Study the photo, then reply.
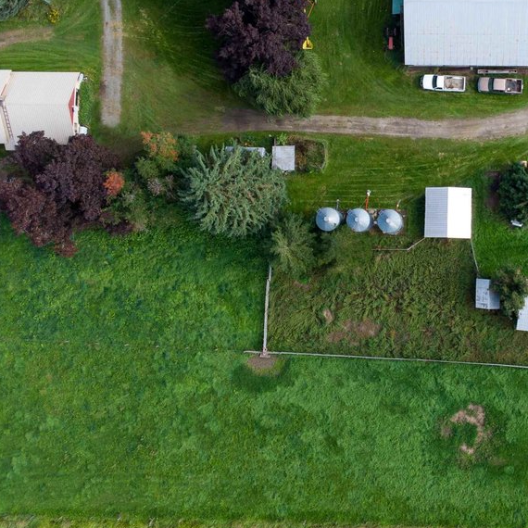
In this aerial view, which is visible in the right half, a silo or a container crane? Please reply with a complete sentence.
The one visible in the right half is a silo.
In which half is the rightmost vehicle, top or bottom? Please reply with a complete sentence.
It is in the top half that the rightmost vehicle appears.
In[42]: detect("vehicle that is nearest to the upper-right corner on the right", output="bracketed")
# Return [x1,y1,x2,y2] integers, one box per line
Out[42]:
[477,75,523,95]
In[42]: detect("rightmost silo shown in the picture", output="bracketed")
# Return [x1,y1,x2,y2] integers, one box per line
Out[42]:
[377,208,403,233]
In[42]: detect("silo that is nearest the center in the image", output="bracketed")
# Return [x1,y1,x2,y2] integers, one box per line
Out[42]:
[316,207,344,232]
